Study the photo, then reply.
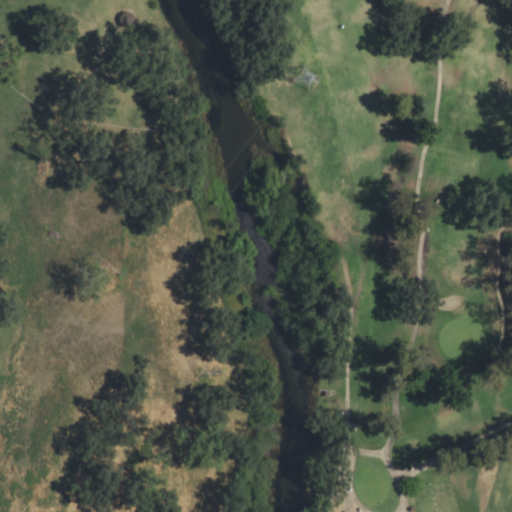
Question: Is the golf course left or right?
right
